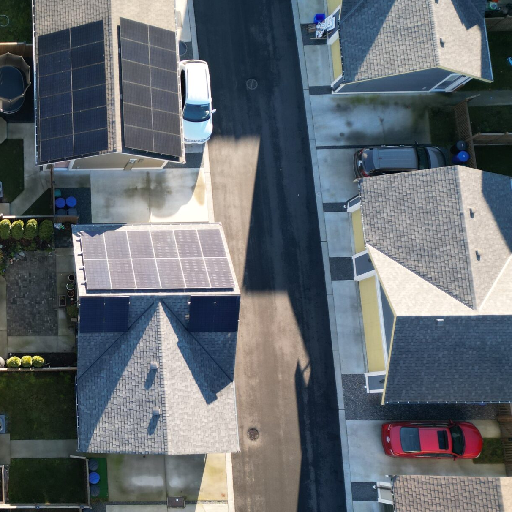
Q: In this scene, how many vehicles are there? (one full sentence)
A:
In total, there are 3 vehicles in the scene.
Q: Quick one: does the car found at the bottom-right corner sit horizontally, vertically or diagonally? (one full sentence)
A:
The car found at the bottom-right corner has been laid out horizontally relative to the frame.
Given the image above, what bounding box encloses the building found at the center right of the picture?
[353,166,512,407]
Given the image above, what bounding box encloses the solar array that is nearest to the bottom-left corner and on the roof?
[79,297,131,333]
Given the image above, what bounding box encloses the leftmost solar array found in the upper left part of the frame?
[38,20,108,163]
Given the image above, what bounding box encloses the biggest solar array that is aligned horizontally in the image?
[73,229,234,289]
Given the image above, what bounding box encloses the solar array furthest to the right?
[188,296,241,331]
